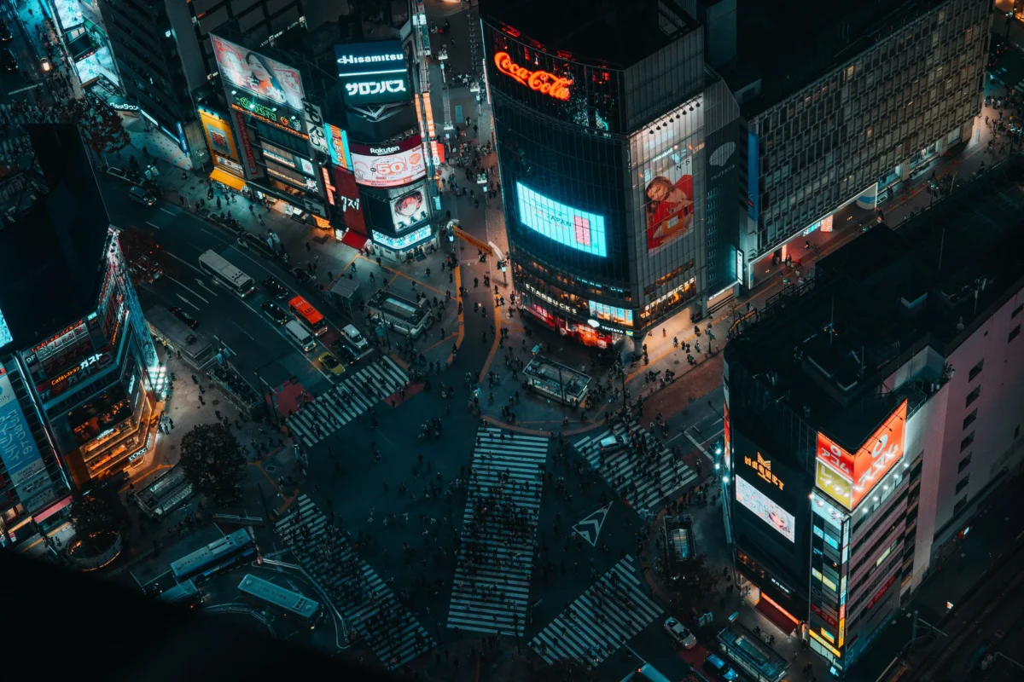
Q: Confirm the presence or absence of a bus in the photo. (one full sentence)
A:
Yes, there is a bus in the image.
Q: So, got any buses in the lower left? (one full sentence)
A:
Yes, you'll find a bus in the lower left.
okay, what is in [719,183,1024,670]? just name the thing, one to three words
building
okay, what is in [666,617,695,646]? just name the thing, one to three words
car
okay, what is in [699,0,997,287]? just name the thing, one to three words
building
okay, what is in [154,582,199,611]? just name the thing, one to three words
bus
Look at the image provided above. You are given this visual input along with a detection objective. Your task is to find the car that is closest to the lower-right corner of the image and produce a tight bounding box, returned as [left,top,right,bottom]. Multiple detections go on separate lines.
[706,652,737,681]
